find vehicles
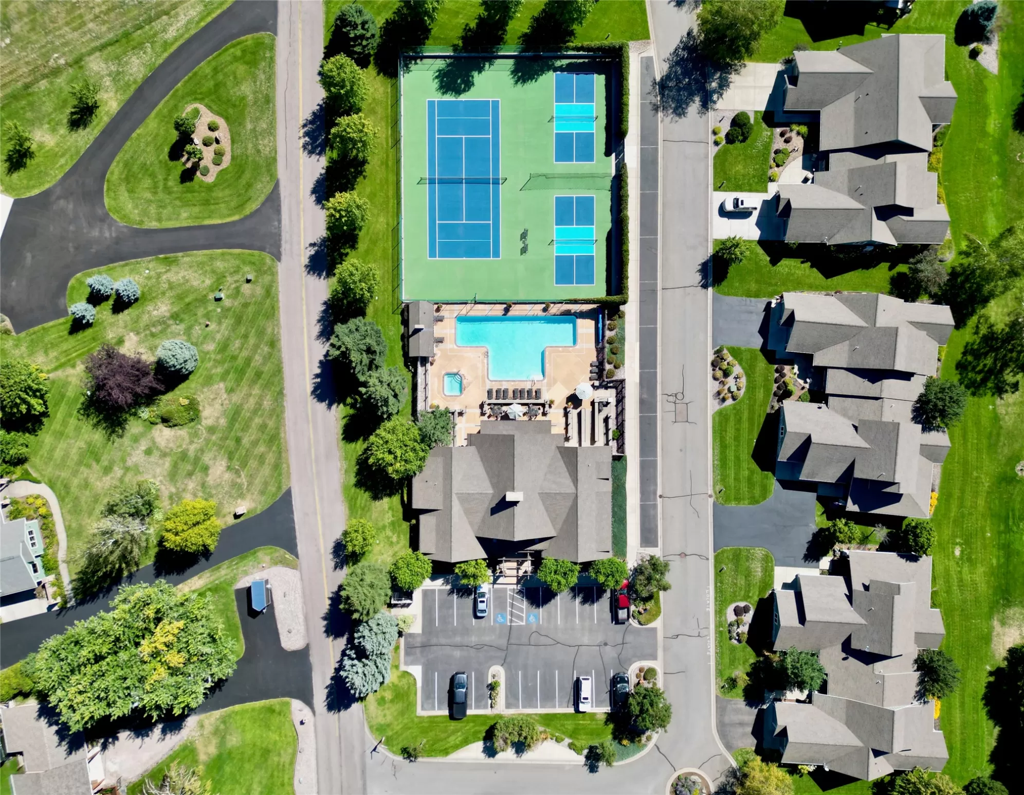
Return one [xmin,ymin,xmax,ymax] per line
[475,583,490,616]
[615,578,631,621]
[577,676,593,710]
[722,197,757,213]
[613,673,628,708]
[452,672,469,716]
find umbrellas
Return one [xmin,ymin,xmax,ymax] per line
[576,383,592,399]
[506,403,522,419]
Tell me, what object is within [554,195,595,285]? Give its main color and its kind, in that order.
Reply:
blue sports court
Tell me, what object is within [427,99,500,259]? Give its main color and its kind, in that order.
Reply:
blue tennis court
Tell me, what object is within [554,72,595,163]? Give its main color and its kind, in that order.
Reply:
blue sports court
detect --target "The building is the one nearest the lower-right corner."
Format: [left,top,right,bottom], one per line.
[768,549,949,781]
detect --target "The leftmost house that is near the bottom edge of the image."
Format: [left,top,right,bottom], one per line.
[1,697,99,795]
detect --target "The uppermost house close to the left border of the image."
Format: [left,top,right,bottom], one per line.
[0,518,48,598]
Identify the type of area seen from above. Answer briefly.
residential area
